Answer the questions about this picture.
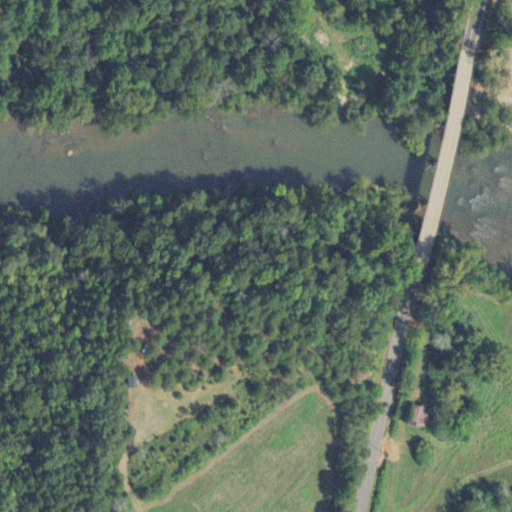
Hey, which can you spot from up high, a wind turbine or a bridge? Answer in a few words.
bridge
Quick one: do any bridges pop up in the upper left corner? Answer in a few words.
No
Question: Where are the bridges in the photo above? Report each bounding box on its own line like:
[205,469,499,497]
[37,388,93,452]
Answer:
[419,46,474,247]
